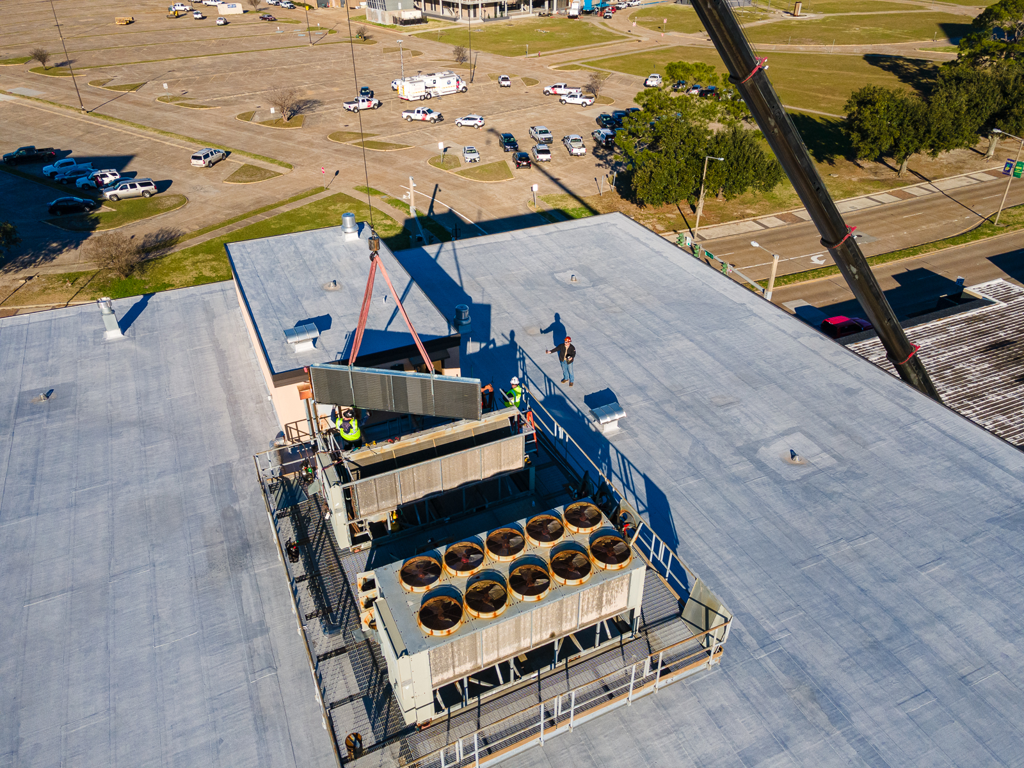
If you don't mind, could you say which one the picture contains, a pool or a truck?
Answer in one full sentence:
The image shows a truck.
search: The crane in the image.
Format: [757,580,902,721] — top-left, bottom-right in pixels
[681,0,953,406]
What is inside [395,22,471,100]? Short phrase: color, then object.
white truck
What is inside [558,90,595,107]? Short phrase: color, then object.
white vehicle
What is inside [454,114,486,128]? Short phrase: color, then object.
white car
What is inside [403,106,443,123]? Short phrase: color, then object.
white vehicle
